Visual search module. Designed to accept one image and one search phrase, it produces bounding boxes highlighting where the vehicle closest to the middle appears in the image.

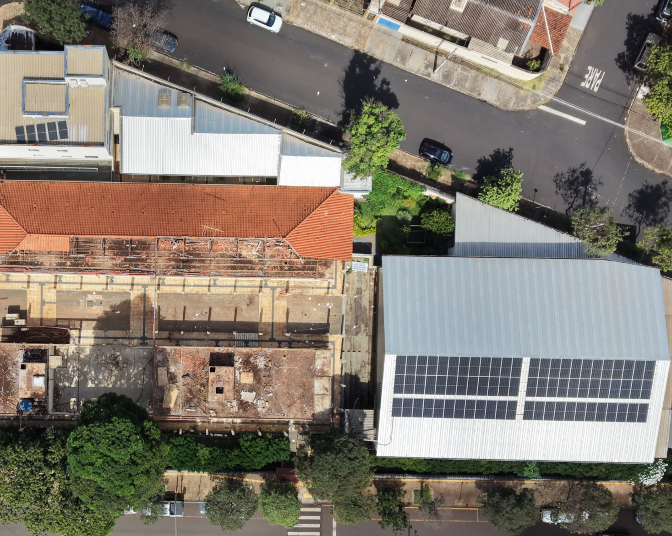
[418,140,452,167]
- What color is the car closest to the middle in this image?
black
